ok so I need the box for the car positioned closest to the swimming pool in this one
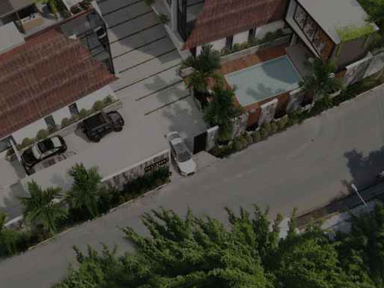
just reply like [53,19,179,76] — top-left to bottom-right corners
[166,124,203,178]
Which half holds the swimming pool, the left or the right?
right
